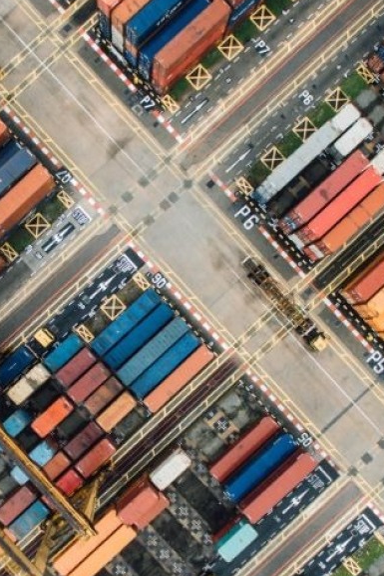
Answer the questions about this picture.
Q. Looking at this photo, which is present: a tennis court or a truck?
truck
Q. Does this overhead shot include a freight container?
Yes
